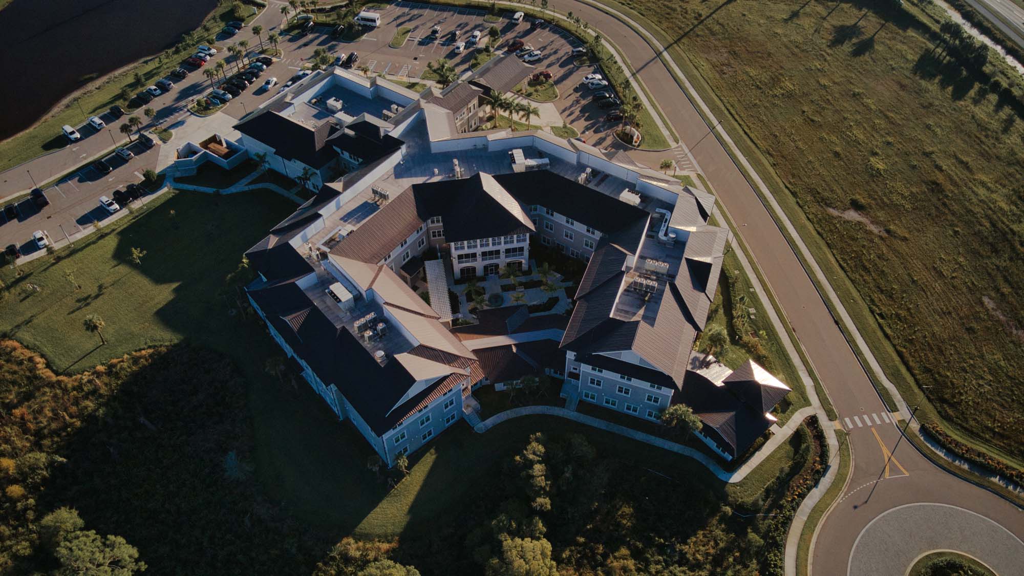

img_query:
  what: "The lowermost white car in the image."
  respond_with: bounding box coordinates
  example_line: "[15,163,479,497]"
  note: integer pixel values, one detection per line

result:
[32,230,49,249]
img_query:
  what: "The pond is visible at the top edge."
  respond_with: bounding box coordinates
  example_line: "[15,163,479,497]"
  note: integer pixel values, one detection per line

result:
[0,0,219,140]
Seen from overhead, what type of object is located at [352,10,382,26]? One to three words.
vehicle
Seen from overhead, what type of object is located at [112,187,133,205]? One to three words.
car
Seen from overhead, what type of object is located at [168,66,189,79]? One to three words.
vehicle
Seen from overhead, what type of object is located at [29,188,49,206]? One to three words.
car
